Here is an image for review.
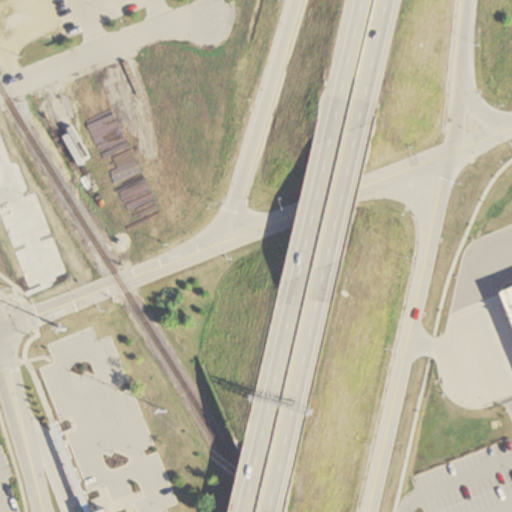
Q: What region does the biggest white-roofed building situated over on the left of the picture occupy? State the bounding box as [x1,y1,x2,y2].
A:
[50,418,86,502]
